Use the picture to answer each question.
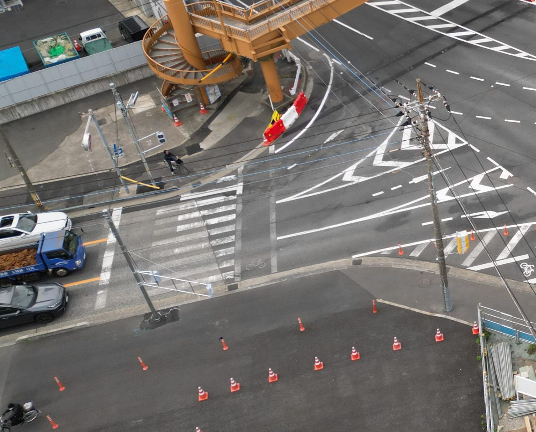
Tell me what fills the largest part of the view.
paved ground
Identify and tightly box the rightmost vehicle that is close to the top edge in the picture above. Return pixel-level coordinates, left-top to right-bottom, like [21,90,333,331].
[116,3,148,40]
